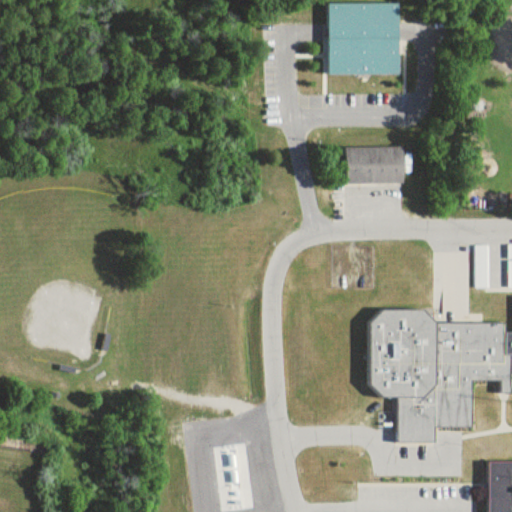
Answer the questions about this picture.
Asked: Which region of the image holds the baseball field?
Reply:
left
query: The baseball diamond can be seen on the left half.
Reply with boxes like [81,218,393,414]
[0,190,120,366]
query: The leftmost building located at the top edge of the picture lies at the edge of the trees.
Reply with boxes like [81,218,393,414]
[328,2,401,76]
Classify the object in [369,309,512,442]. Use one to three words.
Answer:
building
